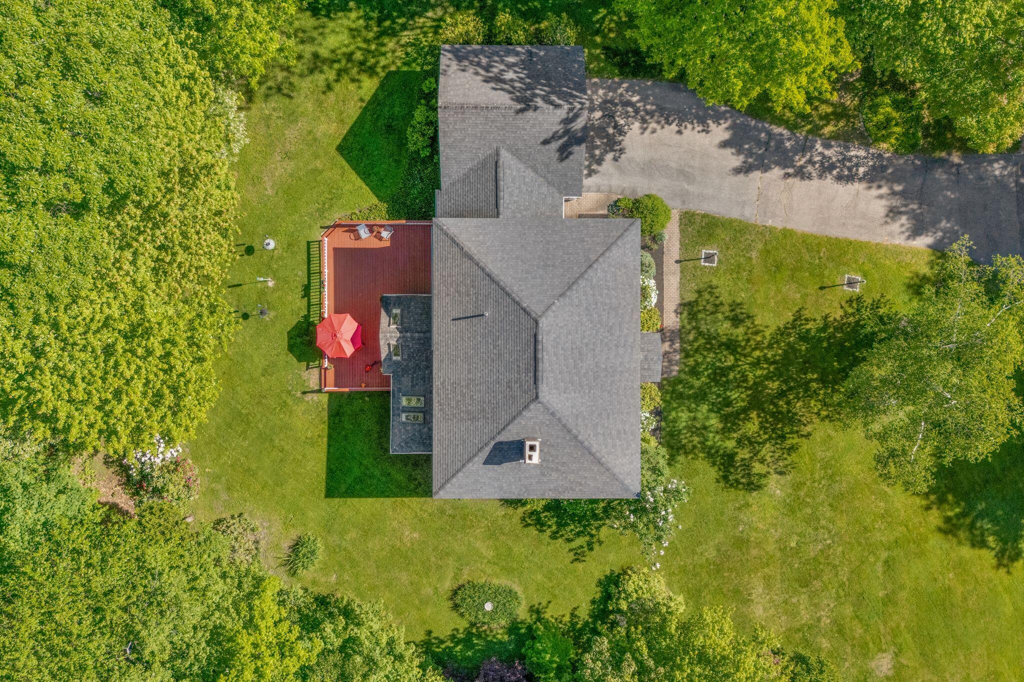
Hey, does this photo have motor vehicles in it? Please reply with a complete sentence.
No, no motor vehicle is visible in the view.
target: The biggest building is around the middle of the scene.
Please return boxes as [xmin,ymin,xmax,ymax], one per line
[379,45,663,500]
